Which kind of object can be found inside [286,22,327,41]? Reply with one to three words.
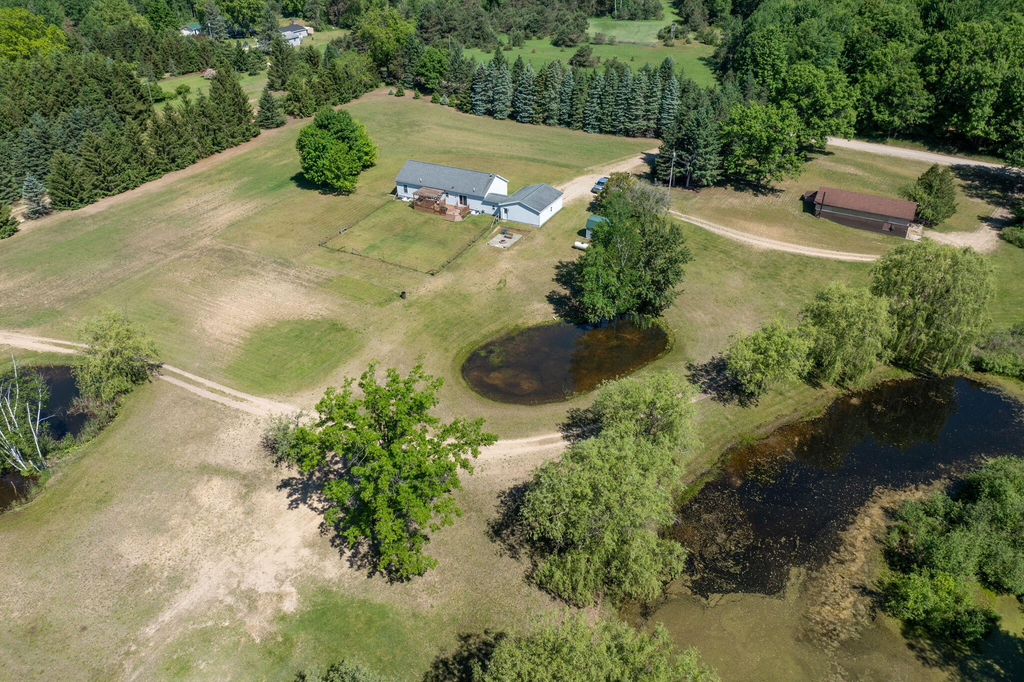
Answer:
house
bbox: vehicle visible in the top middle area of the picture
[593,176,610,190]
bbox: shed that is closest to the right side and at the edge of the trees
[816,186,923,239]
